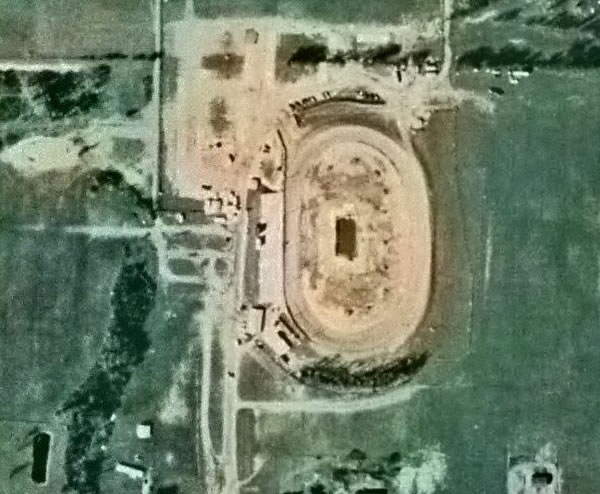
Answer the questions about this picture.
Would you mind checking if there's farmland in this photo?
Yes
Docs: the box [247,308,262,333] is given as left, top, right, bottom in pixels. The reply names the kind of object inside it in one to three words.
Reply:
building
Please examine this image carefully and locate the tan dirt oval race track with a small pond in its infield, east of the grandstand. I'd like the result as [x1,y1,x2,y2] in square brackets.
[285,114,442,369]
